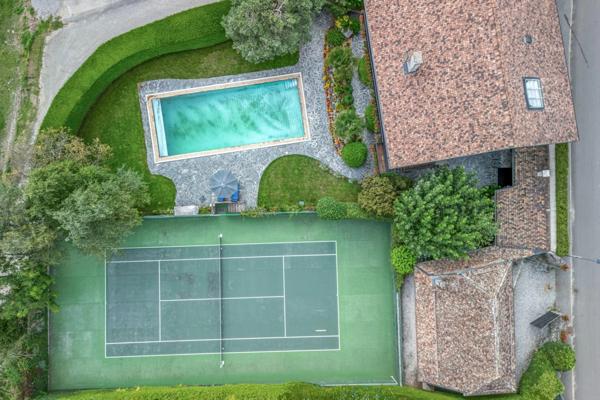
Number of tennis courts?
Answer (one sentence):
There is 1 tennis court in the image.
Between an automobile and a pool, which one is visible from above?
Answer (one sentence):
The one in the frame is a pool.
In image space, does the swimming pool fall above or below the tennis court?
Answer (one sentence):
The swimming pool is located above the tennis court in this view.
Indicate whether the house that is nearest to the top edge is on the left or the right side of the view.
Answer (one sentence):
The house that is nearest to the top edge is on the right side of the image.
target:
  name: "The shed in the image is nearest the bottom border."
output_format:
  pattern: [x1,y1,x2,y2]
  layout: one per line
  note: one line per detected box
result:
[411,249,548,396]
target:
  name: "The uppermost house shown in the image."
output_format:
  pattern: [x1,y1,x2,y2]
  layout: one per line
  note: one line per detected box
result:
[361,0,580,169]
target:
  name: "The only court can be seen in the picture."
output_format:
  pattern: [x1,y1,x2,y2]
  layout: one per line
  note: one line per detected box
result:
[47,217,399,391]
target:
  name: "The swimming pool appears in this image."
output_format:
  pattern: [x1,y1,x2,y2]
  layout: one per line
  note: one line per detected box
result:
[145,71,310,163]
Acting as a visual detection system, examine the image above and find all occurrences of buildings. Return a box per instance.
[361,0,580,169]
[411,249,548,396]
